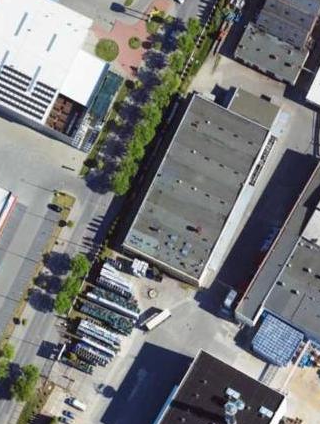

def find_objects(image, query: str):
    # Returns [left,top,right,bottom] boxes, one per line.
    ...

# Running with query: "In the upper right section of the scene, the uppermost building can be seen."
[251,0,320,56]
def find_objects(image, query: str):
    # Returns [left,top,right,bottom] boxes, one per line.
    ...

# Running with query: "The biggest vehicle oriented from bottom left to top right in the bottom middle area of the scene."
[145,312,174,332]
